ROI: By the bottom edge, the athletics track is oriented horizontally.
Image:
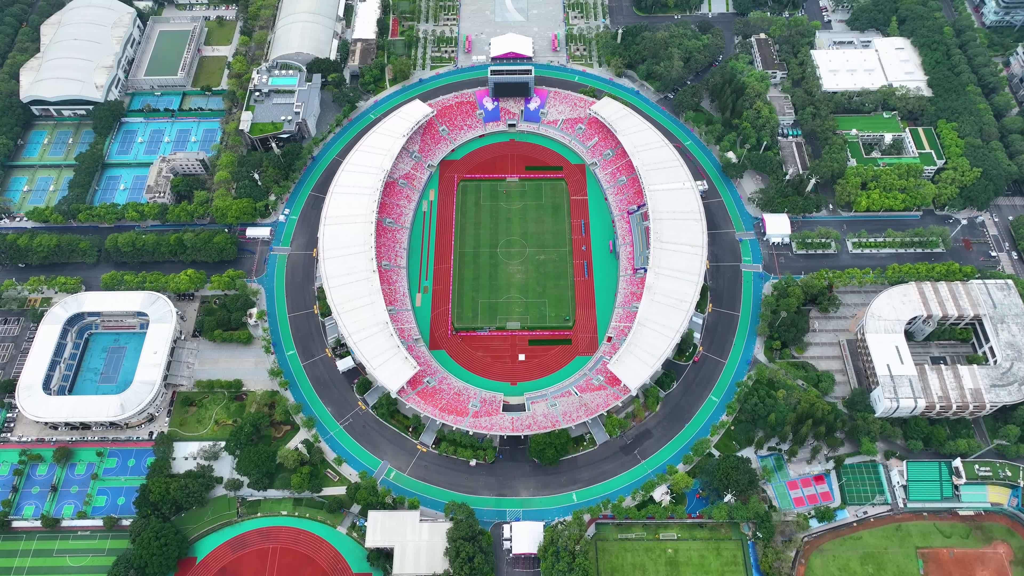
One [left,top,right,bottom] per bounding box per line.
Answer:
[172,517,385,576]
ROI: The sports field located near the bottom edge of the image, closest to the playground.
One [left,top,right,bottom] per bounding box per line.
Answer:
[597,540,749,576]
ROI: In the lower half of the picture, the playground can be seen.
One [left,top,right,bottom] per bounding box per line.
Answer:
[684,483,724,522]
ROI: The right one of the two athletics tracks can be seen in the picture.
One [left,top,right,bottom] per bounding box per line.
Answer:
[429,138,598,389]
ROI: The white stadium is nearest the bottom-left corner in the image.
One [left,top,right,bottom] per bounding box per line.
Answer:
[16,291,182,427]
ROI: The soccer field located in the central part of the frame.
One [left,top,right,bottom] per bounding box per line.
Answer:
[450,177,577,332]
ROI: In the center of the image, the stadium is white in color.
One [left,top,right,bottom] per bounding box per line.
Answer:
[316,83,710,442]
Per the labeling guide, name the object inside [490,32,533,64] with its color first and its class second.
white tent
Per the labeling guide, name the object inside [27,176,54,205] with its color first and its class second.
blue tennis court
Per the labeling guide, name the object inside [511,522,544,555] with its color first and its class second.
white tent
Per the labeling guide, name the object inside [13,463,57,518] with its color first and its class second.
blue basketball court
